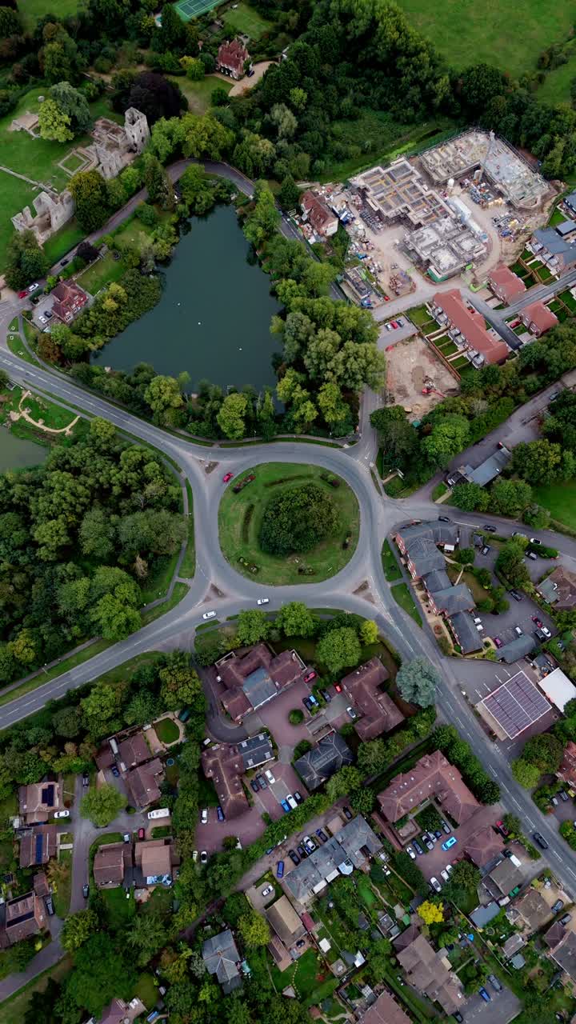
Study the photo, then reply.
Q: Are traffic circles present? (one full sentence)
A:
Yes, the photo shows a traffic circle.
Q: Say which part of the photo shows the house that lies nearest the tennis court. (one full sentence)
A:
Look in the top portion of the view to spot the house that lies nearest the tennis court.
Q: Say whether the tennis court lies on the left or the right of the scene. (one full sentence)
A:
You can find the tennis court on the left side of the picture.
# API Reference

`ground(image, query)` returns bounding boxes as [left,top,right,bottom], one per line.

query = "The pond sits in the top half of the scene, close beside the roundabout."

[90,204,285,396]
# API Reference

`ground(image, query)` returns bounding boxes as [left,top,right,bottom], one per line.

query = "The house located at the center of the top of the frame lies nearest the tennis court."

[214,37,253,83]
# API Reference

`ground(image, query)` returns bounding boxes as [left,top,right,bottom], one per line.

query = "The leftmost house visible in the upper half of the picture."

[50,281,90,324]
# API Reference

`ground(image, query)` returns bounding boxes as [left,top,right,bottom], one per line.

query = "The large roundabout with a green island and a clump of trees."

[178,440,387,622]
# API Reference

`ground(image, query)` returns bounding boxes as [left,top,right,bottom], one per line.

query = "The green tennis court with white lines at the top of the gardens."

[174,0,225,21]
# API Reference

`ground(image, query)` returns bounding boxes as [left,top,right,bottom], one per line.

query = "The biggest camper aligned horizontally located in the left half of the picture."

[147,807,171,819]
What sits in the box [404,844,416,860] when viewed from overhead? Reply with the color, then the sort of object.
white vehicle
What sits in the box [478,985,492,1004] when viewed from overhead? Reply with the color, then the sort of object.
blue car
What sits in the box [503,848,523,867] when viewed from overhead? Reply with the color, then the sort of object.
white vehicle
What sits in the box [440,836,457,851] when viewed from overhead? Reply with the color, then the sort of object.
blue vehicle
